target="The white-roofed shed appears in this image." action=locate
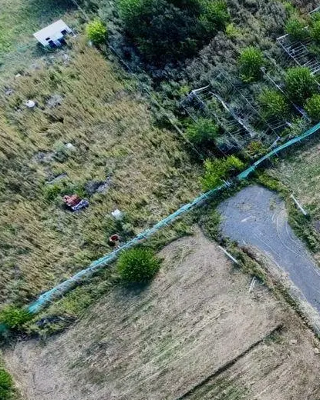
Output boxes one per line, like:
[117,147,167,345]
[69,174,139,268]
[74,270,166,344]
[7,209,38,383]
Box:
[30,18,80,52]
